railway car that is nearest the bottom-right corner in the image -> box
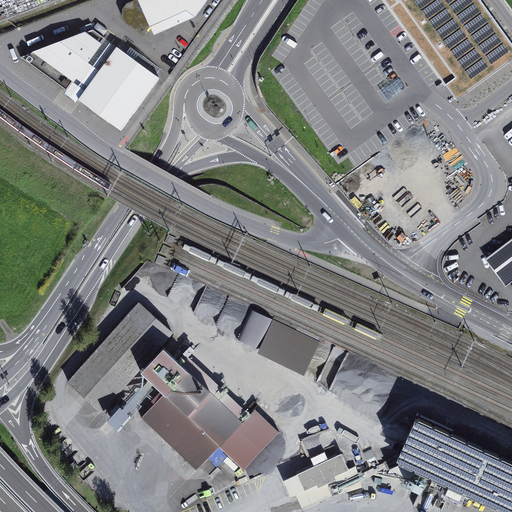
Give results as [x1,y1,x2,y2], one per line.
[353,322,383,340]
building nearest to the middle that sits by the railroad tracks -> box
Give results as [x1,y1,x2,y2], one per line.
[238,310,272,352]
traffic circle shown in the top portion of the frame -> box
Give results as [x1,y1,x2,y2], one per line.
[172,68,244,139]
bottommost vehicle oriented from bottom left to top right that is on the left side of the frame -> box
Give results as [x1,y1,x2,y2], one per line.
[180,494,200,509]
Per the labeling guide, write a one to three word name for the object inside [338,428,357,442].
vehicle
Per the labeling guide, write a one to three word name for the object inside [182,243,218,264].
rail car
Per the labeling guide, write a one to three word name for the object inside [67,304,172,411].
shed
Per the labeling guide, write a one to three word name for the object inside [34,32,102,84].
building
